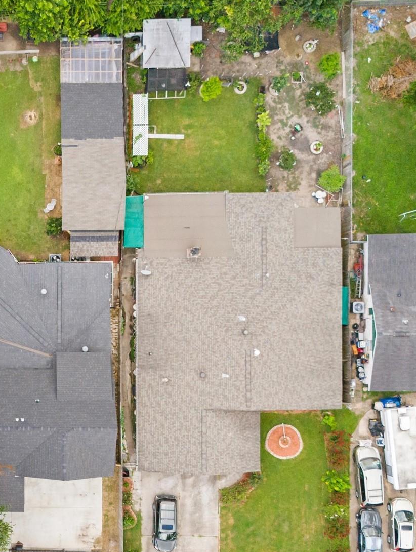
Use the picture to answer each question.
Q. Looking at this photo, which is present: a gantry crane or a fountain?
fountain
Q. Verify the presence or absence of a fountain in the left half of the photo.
No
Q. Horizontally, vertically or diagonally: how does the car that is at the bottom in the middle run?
vertically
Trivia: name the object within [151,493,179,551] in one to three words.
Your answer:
car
